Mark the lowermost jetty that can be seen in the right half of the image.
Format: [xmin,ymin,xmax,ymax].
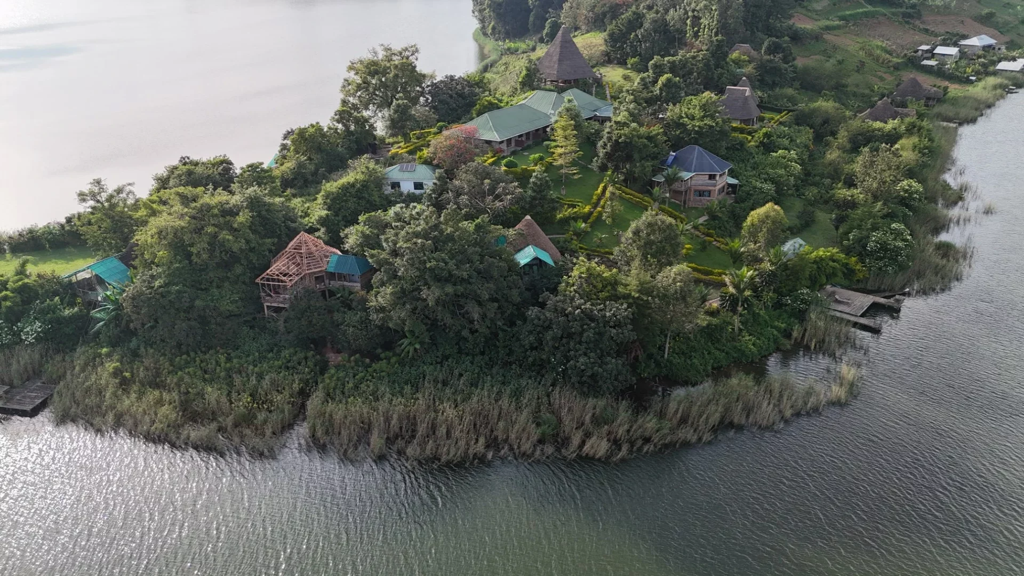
[823,288,906,334]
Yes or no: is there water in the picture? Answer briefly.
Yes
